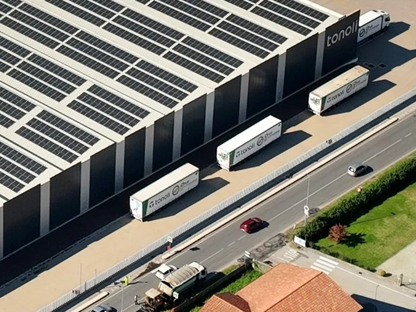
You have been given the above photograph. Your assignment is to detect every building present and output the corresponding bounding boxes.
[202,267,367,312]
[0,0,360,266]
